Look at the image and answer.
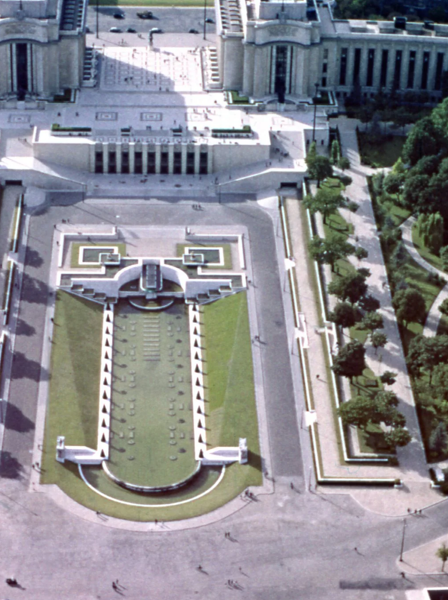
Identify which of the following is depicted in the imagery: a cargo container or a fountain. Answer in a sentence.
Looking from above, you can make out a fountain.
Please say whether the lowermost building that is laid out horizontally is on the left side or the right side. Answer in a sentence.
The lowermost building that is laid out horizontally is on the left side of the image.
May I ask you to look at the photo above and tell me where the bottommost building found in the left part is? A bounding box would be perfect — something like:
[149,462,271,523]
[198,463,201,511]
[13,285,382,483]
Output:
[31,125,271,195]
